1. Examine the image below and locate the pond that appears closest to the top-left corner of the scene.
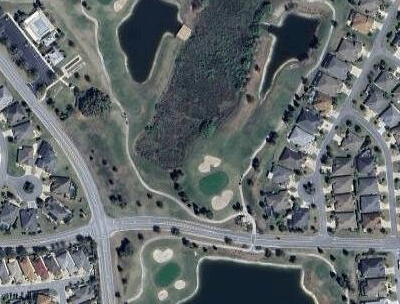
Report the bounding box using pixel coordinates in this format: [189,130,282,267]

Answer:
[121,0,180,81]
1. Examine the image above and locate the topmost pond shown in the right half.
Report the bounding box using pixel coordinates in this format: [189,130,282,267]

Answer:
[262,15,318,95]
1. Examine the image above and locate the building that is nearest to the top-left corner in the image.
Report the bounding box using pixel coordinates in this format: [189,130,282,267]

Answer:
[22,10,56,43]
